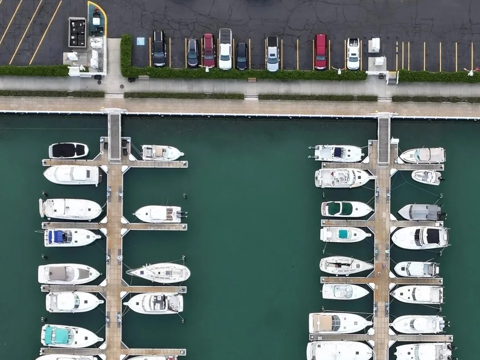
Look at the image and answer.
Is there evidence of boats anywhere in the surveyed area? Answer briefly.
Yes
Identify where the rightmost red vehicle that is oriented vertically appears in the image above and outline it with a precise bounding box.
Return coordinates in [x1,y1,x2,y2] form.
[314,34,328,69]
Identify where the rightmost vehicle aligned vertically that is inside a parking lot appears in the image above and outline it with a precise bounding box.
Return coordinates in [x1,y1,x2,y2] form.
[346,38,361,69]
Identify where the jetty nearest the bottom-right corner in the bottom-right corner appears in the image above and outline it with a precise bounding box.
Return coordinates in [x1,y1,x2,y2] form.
[388,325,454,351]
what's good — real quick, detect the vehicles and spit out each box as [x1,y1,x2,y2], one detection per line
[218,28,233,69]
[186,38,200,67]
[346,38,361,69]
[152,31,166,67]
[202,34,216,68]
[314,34,328,69]
[266,36,280,70]
[235,42,249,70]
